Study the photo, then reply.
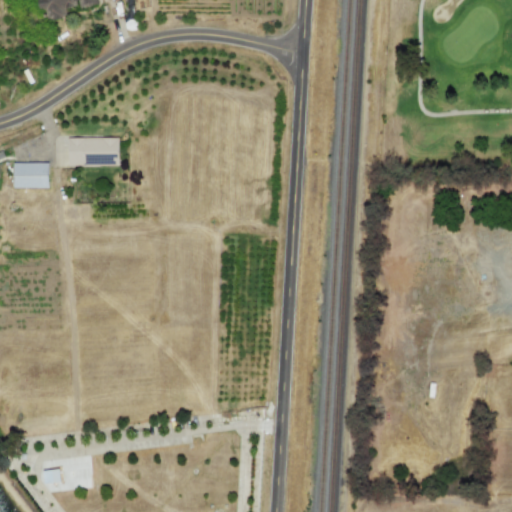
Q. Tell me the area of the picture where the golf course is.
top right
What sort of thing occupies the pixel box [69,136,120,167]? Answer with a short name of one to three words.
barn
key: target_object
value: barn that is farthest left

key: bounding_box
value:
[13,162,50,188]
